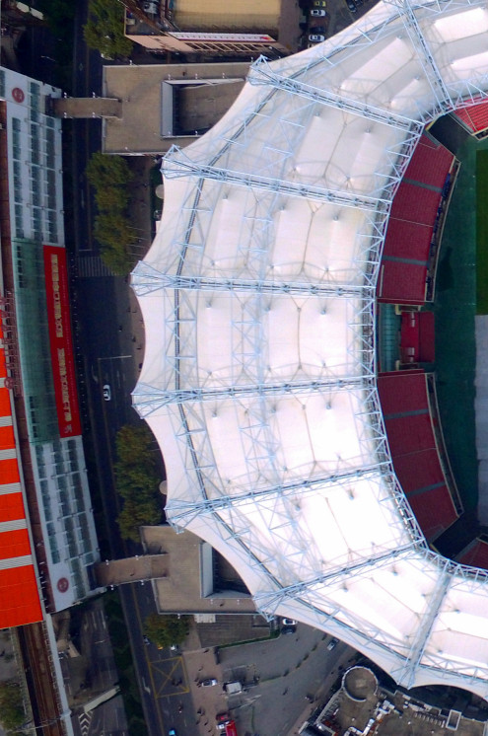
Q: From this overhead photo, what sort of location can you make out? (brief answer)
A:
sports ground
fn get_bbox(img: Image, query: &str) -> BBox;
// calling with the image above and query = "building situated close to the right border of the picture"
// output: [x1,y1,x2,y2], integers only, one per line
[301,649,488,736]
